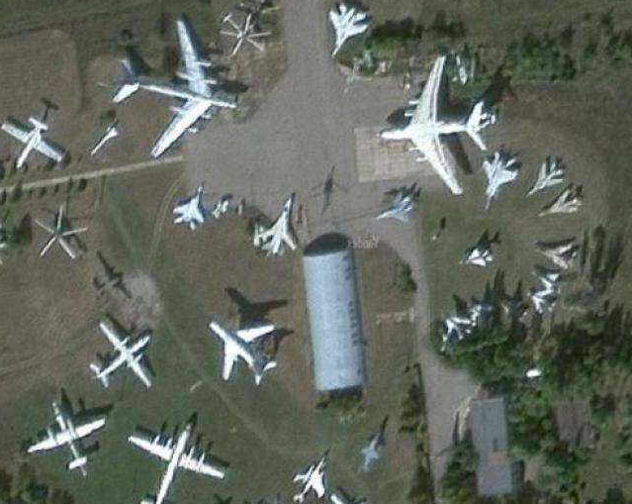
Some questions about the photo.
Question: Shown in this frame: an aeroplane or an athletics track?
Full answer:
The one in the frame is an aeroplane.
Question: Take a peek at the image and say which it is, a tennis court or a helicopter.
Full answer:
The one in the frame is a helicopter.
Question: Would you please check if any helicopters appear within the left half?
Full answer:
Yes, within the left half there is a helicopter.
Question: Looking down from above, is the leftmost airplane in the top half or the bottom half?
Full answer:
You can find the leftmost airplane in the top half.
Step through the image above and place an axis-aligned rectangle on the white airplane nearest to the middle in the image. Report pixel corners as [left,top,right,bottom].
[256,195,295,257]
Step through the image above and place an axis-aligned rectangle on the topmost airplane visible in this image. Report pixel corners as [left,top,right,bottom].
[331,2,367,54]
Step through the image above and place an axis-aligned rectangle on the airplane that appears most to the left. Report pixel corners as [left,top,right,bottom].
[2,114,60,169]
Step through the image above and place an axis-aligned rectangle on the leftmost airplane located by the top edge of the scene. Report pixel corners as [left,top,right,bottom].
[113,22,236,159]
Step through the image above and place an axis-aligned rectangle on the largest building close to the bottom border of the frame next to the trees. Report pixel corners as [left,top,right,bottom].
[470,397,533,495]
